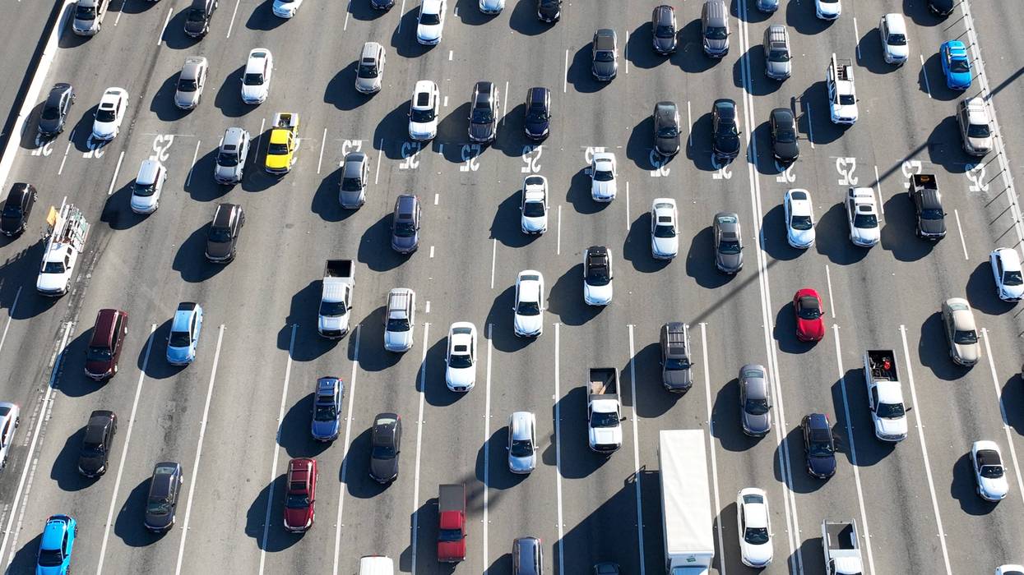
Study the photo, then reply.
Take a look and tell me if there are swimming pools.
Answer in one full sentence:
No, there is no swimming pool in the image.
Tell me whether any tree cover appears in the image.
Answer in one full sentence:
No, the scene doesn't show any tree cover.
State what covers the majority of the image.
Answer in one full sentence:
For the most part, this view shows paved ground.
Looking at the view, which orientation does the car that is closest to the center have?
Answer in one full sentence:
The car that is closest to the center is oriented from top to bottom.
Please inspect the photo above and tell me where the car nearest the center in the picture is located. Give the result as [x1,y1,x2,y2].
[513,272,545,338]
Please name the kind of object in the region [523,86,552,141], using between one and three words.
vehicle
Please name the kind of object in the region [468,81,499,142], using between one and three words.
car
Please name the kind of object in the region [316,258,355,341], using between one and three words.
truck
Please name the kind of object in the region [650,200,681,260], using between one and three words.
car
